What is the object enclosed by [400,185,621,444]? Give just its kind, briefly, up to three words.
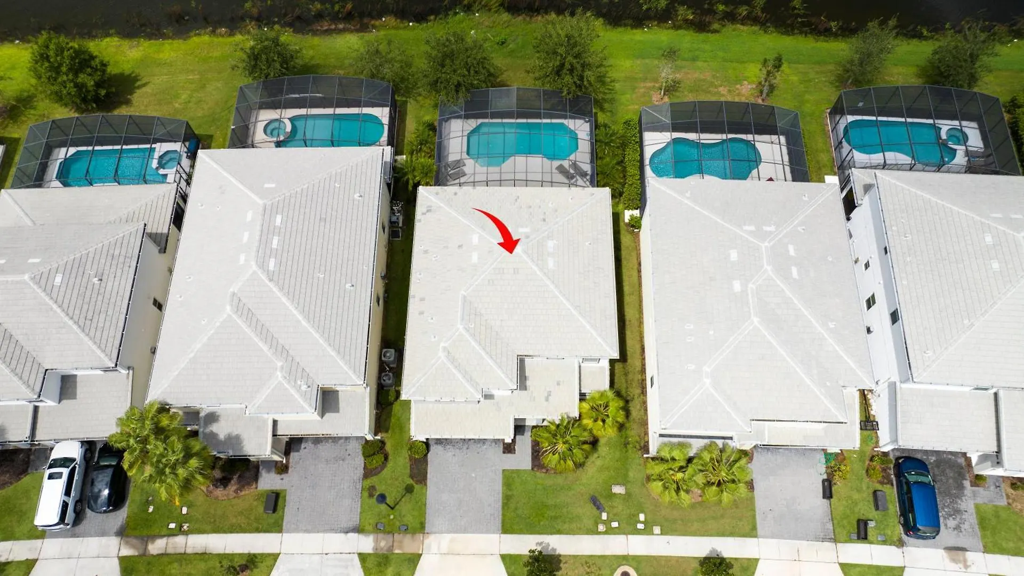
house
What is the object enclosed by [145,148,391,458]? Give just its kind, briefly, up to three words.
house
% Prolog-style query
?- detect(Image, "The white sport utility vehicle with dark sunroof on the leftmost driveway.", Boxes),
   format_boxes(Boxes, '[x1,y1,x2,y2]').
[28,444,90,529]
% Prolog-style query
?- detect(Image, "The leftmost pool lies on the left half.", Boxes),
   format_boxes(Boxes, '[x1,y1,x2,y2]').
[52,145,180,185]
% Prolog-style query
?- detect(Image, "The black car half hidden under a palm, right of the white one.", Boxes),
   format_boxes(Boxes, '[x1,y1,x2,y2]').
[88,444,128,514]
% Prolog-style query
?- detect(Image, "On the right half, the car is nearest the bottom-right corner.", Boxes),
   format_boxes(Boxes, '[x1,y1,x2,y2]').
[892,457,946,538]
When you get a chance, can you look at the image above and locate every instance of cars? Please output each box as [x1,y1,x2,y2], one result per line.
[88,444,128,514]
[892,457,946,538]
[28,444,90,529]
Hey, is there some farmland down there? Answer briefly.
No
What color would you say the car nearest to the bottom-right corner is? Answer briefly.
blue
